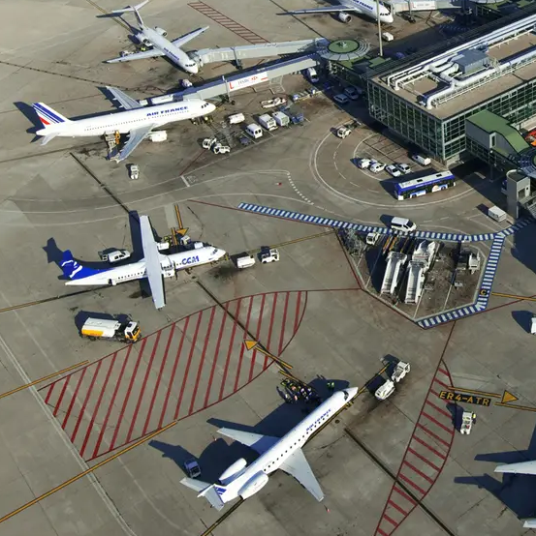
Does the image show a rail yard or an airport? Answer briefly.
airport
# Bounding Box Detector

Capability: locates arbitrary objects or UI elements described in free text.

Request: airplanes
[192,388,357,505]
[55,216,226,307]
[104,2,208,76]
[286,0,392,25]
[30,85,217,164]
